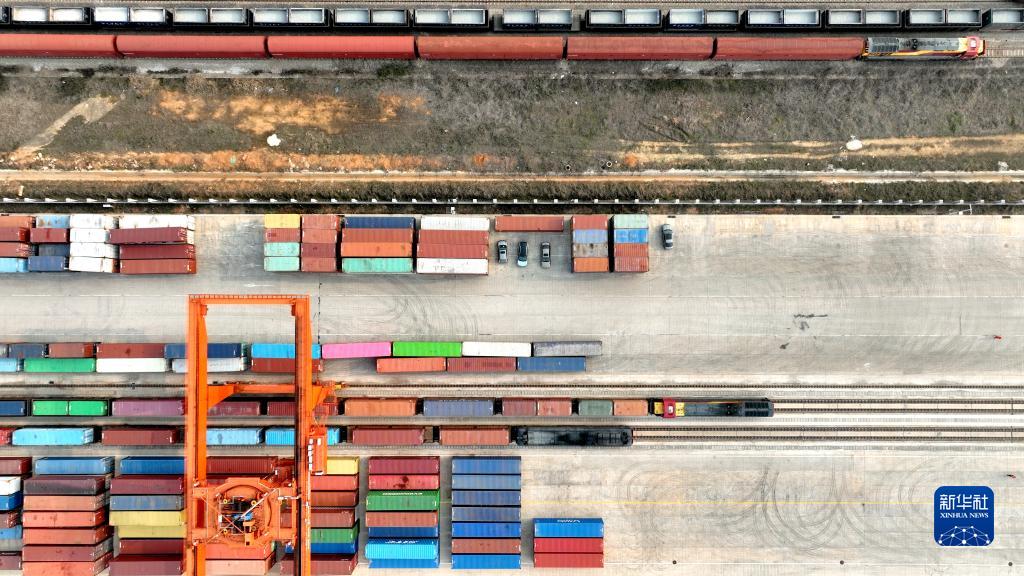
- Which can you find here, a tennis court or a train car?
train car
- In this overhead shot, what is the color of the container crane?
orange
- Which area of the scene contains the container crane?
bottom left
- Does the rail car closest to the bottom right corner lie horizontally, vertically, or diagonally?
horizontally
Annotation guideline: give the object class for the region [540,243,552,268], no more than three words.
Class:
vehicle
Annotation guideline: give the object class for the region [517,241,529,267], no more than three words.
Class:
vehicle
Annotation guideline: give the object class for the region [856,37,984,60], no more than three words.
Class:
rail car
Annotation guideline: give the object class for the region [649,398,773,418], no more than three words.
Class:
rail car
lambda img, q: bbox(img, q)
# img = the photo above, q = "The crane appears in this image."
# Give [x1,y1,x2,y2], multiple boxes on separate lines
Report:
[184,294,347,576]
